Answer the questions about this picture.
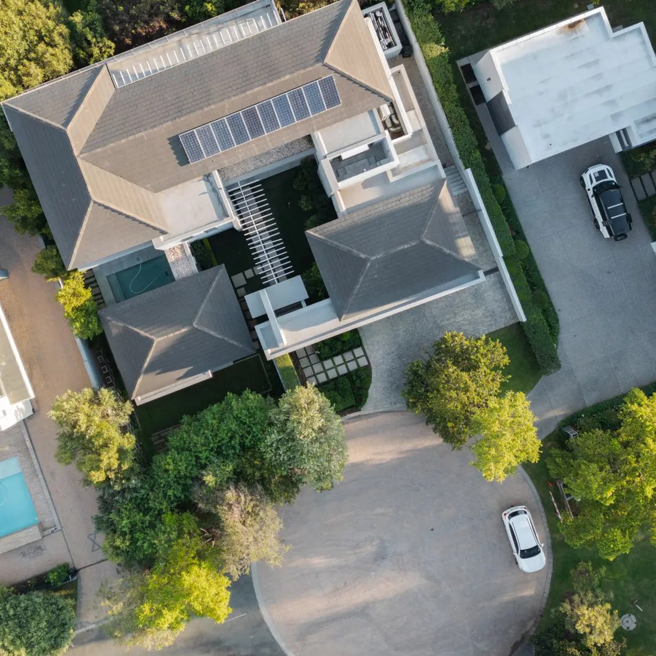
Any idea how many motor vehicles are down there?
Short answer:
two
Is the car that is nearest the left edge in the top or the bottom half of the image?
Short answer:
bottom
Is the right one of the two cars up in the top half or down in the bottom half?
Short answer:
top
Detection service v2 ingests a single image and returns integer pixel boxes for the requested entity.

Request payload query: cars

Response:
[501,504,544,573]
[580,164,634,240]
